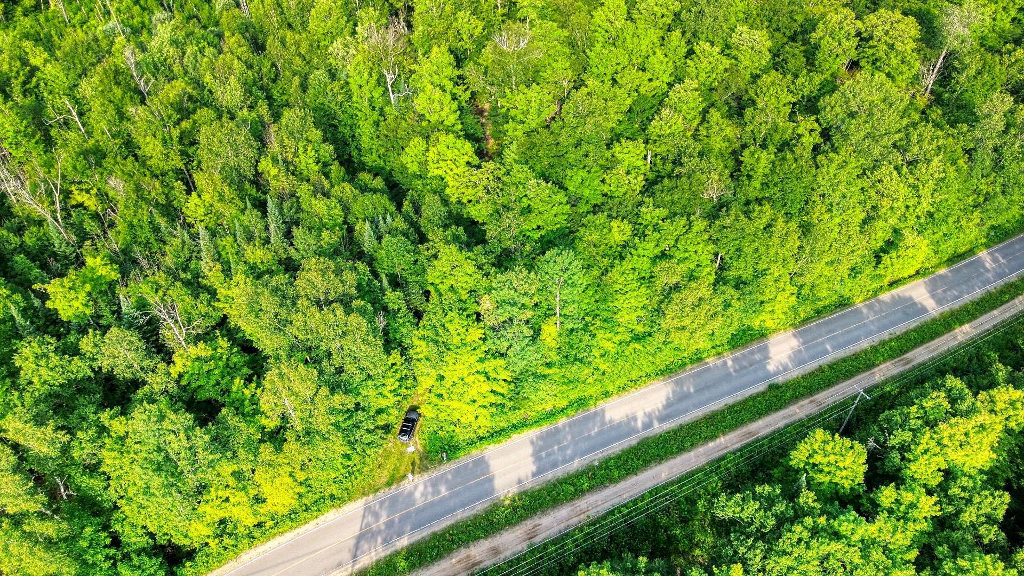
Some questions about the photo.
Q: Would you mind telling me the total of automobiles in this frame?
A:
1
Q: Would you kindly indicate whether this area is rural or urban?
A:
rural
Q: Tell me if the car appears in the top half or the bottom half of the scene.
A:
bottom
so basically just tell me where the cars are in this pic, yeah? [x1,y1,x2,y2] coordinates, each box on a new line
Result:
[398,410,420,441]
